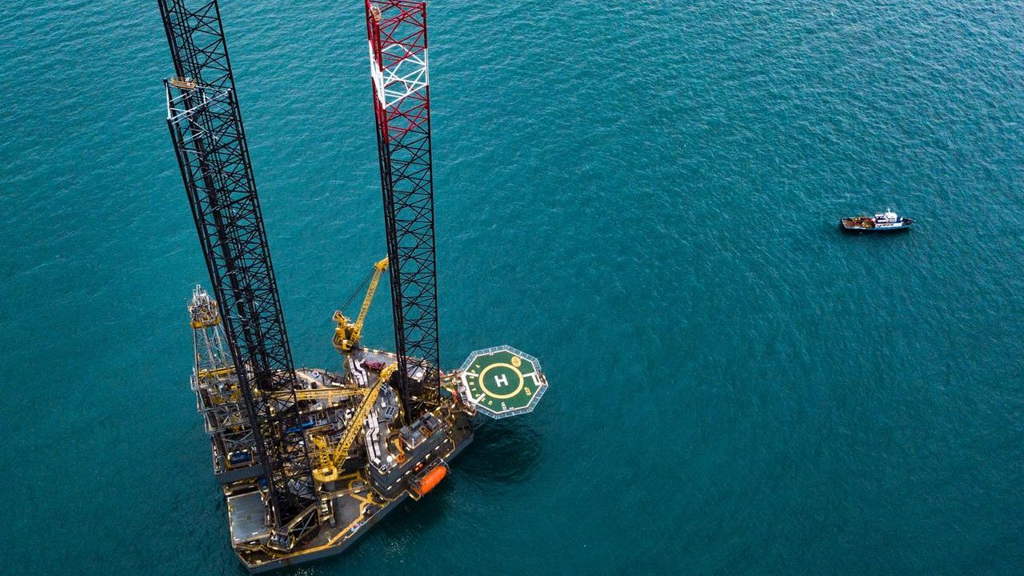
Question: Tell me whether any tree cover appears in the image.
No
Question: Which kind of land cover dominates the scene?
water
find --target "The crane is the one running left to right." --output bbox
[256,386,366,435]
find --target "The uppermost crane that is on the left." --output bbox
[330,260,387,374]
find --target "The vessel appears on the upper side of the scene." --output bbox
[841,205,915,231]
